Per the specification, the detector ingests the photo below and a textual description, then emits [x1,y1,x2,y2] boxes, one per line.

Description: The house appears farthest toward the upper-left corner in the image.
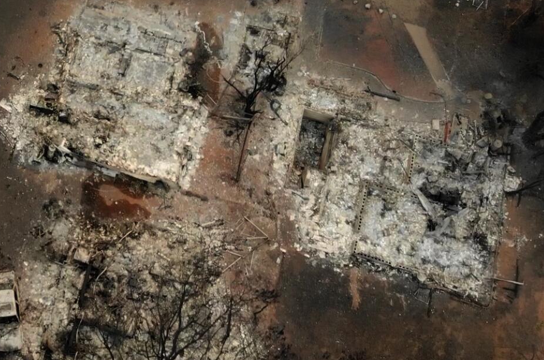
[0,0,226,201]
